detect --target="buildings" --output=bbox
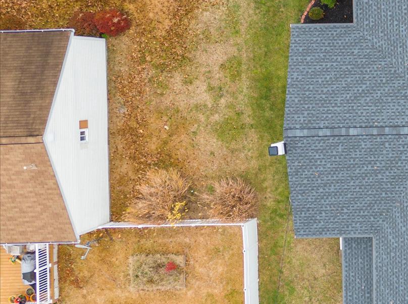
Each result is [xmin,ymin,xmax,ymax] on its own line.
[270,0,408,304]
[0,27,110,247]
